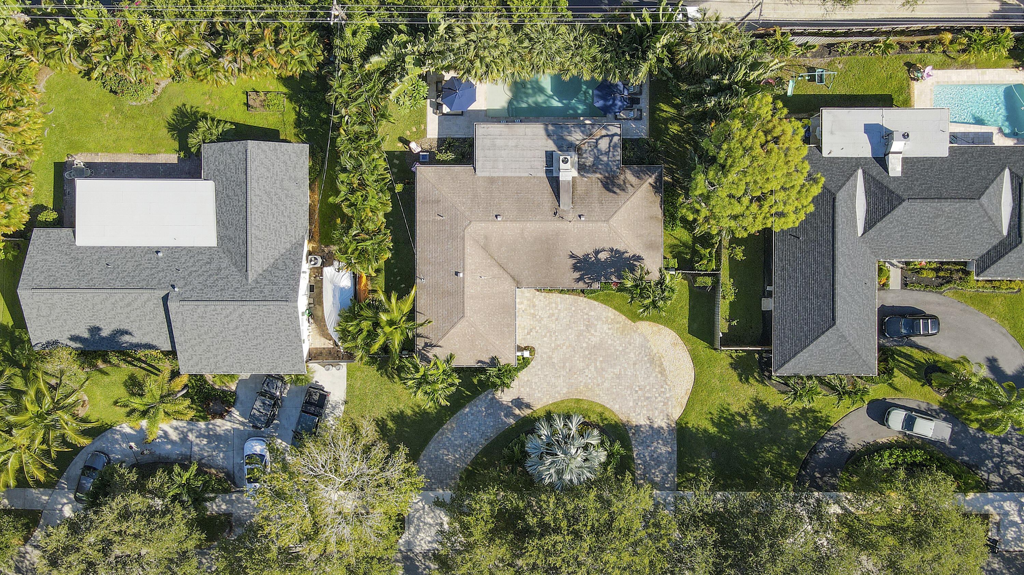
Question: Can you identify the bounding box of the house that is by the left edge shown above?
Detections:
[18,139,311,376]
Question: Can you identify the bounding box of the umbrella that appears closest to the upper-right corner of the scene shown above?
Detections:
[592,79,629,116]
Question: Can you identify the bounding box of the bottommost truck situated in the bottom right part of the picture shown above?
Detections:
[880,407,955,445]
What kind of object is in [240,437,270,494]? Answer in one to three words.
car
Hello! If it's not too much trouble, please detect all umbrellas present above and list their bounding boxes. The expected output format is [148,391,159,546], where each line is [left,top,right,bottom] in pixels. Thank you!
[592,79,629,116]
[440,76,476,111]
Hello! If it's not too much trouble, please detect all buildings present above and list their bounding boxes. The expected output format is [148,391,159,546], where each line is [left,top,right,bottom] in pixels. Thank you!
[414,121,665,368]
[767,106,1024,378]
[18,139,311,376]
